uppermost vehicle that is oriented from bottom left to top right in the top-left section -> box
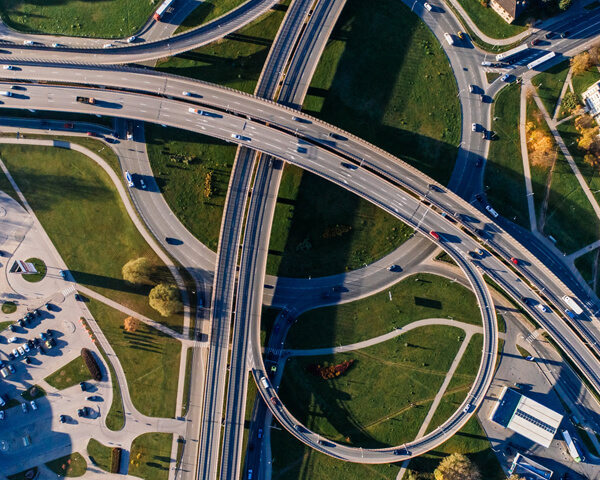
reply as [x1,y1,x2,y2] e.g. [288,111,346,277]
[153,0,173,22]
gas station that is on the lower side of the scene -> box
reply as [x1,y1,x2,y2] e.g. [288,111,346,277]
[486,383,562,448]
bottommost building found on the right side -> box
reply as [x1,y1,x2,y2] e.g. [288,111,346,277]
[504,448,553,480]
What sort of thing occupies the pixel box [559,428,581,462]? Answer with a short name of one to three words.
bus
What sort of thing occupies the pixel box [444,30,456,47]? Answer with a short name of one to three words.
vehicle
